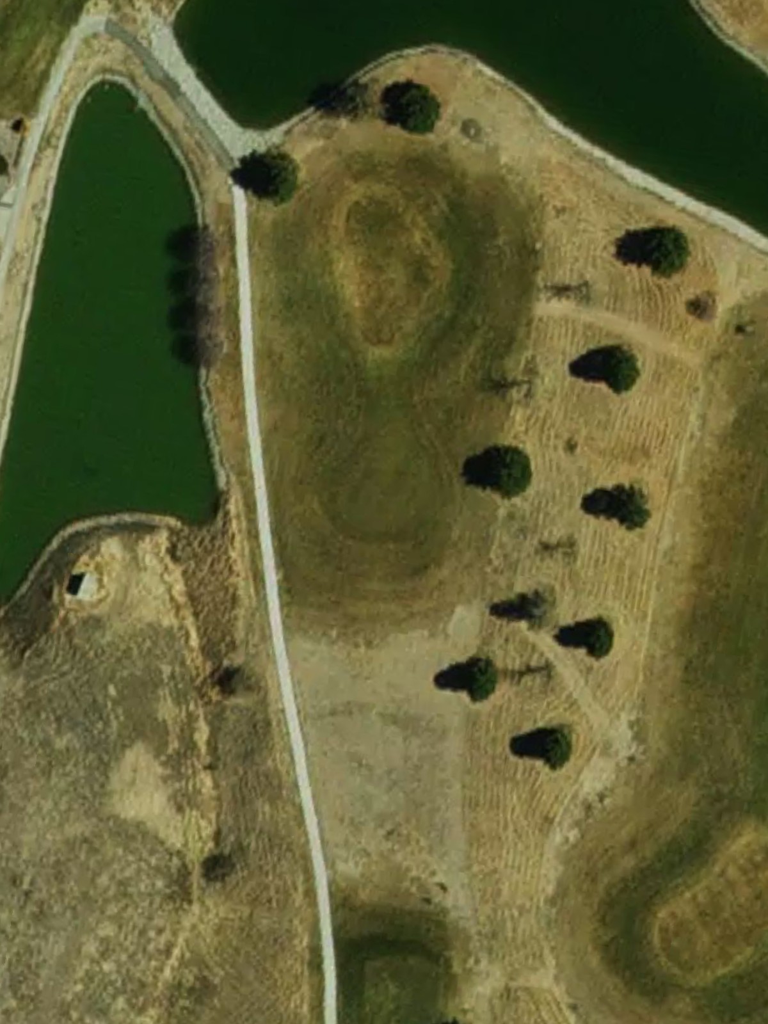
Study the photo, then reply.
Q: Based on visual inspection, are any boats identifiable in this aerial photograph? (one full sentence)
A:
No, I can't see a single boat in this photo.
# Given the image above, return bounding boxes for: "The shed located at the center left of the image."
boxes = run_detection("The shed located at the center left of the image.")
[79,574,100,601]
